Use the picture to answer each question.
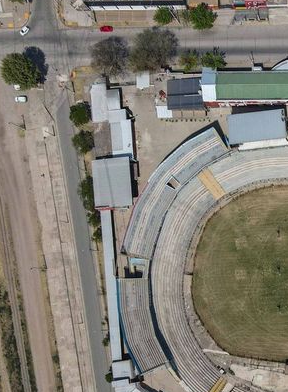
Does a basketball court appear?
No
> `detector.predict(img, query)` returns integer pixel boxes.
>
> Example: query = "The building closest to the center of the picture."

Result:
[92,156,138,211]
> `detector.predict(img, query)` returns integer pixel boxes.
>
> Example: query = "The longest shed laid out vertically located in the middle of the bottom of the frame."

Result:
[101,210,126,361]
